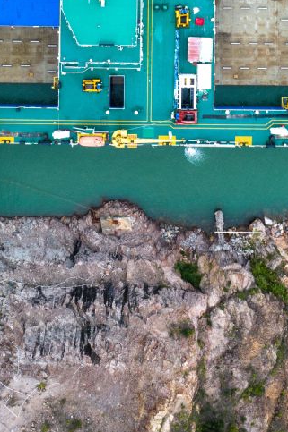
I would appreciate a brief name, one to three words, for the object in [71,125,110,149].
boat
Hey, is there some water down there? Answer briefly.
Yes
